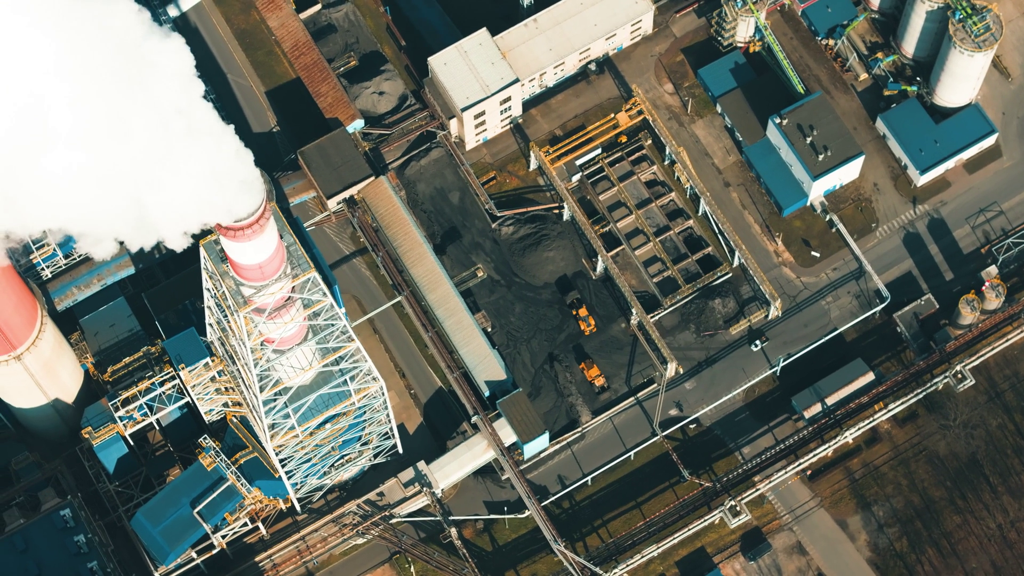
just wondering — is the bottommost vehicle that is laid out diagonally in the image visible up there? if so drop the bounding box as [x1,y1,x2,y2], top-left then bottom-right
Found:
[744,540,775,566]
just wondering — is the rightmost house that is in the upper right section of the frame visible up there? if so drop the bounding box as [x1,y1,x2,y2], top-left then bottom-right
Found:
[873,97,1001,189]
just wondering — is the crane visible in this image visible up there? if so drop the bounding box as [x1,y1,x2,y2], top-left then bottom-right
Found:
[533,85,651,171]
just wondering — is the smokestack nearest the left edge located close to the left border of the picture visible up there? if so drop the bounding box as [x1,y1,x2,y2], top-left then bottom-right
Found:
[0,257,84,437]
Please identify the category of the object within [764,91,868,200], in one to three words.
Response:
building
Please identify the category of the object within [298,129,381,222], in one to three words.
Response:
house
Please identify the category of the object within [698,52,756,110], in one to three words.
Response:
shed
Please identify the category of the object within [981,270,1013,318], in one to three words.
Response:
storage tank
